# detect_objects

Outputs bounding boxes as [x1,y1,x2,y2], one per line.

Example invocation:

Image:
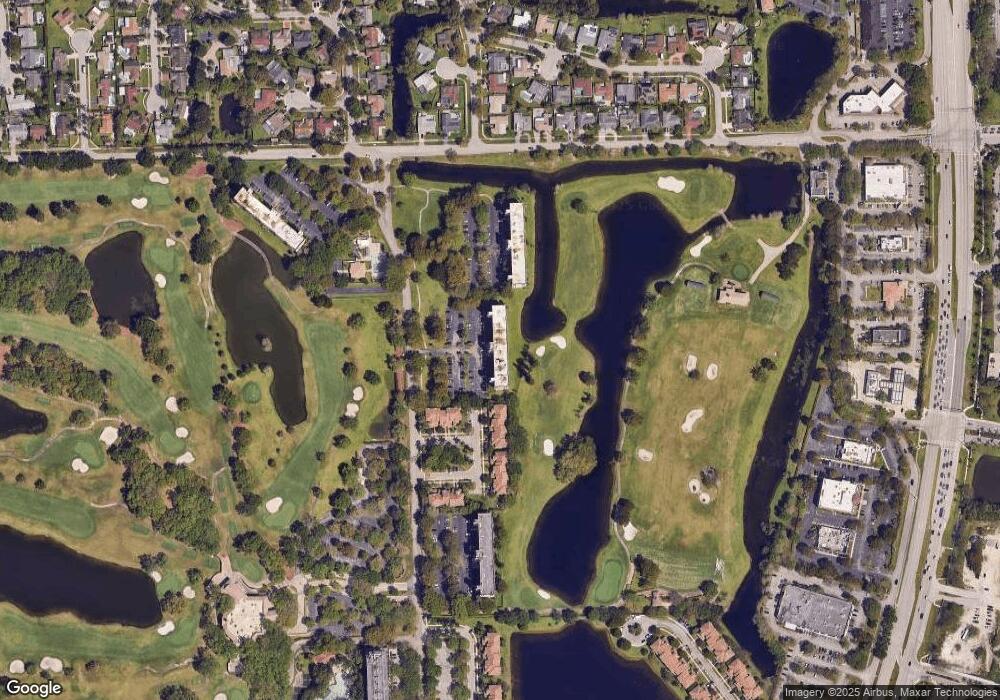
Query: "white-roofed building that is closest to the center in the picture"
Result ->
[487,305,508,391]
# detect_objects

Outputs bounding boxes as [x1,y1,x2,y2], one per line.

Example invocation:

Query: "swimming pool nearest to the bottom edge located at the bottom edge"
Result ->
[321,663,349,700]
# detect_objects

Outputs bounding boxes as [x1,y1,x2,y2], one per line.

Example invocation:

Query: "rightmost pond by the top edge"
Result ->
[768,21,835,122]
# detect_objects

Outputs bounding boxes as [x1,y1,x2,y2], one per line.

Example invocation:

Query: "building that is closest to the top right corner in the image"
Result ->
[843,81,904,114]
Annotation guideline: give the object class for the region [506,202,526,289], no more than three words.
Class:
building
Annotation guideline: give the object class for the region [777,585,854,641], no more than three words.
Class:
building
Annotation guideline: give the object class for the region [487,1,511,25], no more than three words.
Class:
house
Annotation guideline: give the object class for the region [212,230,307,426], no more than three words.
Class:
pond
